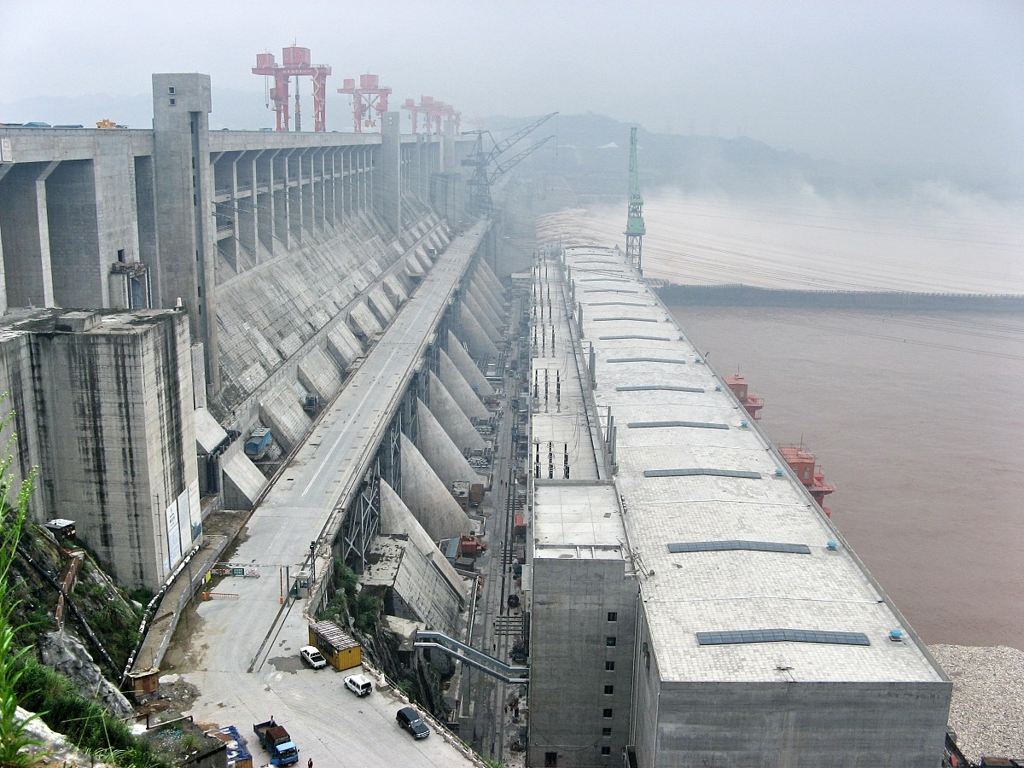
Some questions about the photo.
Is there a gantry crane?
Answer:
Yes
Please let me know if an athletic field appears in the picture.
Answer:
No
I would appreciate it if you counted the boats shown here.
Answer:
0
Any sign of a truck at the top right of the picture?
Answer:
No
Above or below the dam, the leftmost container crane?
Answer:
above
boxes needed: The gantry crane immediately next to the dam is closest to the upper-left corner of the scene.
[251,38,323,133]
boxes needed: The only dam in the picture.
[0,126,485,454]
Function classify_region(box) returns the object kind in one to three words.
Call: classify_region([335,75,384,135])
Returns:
container crane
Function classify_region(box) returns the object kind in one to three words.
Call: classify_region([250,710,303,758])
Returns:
truck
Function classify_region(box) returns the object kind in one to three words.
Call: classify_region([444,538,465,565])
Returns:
shed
